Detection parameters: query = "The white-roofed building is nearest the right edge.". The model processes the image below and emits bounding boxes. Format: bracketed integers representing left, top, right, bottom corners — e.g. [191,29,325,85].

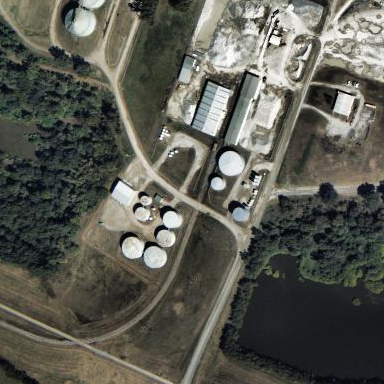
[333,92,355,116]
